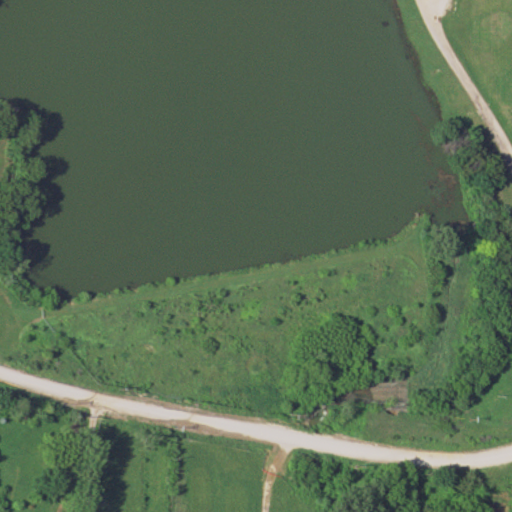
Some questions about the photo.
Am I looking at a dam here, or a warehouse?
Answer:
dam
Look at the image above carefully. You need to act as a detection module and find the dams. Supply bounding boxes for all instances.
[45,234,408,330]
